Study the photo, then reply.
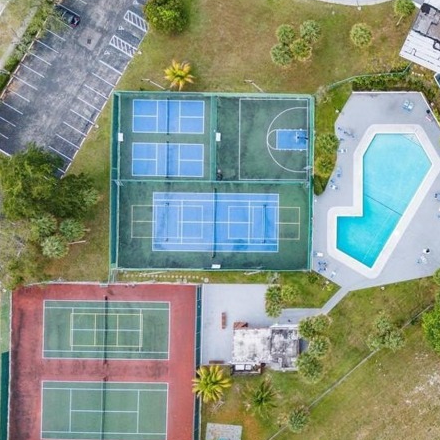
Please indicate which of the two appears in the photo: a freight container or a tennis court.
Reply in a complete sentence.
This aerial view contains a tennis court.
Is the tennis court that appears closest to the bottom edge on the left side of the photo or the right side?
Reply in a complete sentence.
The tennis court that appears closest to the bottom edge is on the left side of the image.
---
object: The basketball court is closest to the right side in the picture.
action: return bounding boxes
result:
[268,99,309,172]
